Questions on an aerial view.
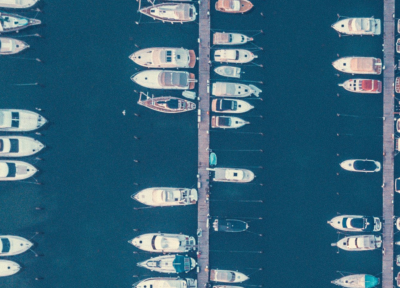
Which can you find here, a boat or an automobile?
boat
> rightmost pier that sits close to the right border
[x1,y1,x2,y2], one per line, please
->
[382,0,395,288]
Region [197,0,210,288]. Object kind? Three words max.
pier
